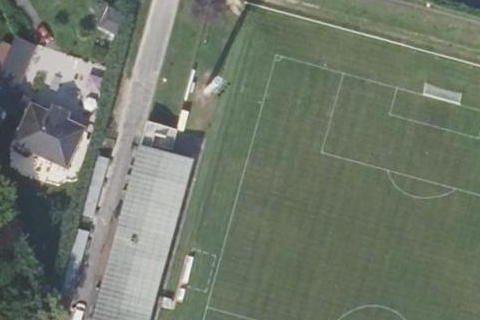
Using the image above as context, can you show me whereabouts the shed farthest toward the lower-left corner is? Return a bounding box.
[62,229,89,295]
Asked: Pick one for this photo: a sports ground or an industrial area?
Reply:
sports ground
